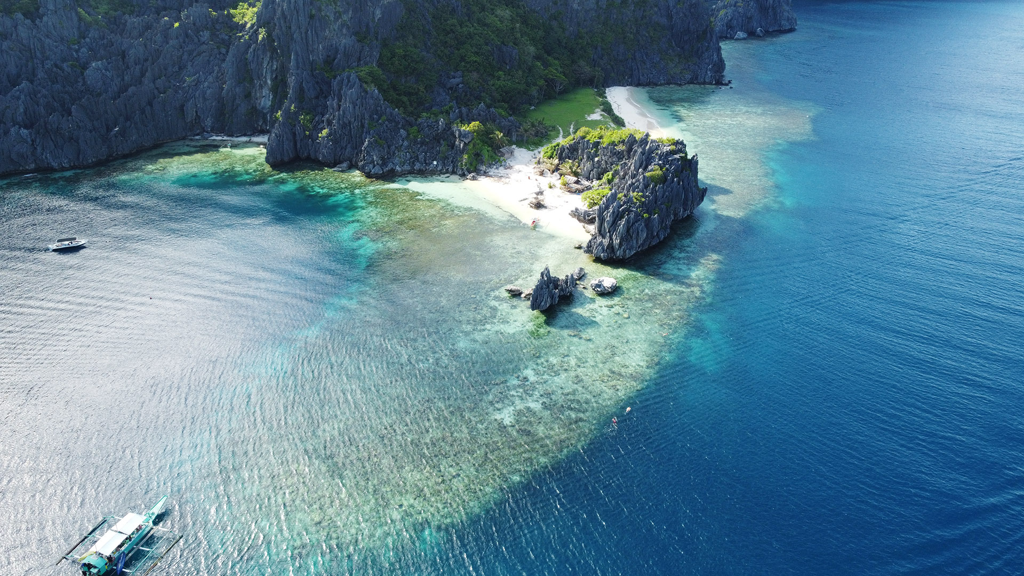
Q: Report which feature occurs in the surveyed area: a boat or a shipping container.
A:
boat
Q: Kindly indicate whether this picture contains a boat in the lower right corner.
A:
No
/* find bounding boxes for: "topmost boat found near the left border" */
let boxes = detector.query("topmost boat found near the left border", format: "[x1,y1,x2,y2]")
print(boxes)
[47,235,88,251]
